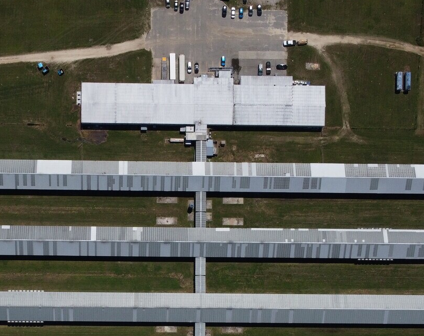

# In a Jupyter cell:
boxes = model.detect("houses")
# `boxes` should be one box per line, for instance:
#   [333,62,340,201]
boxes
[78,71,325,157]
[0,290,424,324]
[0,159,424,194]
[0,225,424,261]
